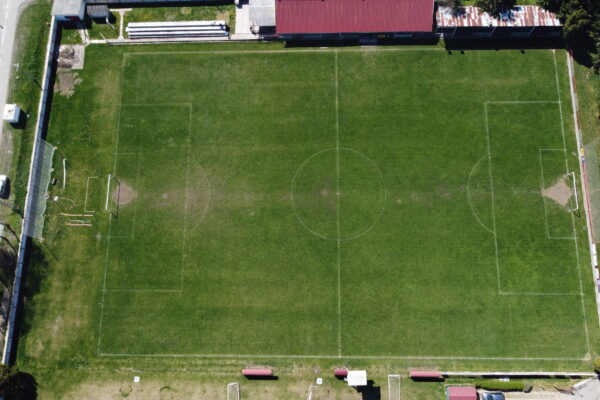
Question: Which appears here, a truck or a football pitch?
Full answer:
The image shows a football pitch.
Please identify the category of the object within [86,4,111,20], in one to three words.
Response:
shed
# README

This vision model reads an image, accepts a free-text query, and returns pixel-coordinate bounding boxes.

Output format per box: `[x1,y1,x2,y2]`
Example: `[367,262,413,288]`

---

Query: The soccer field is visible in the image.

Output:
[90,44,599,364]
